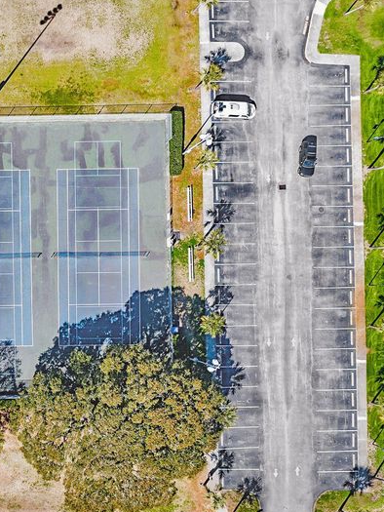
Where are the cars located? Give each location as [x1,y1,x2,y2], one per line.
[296,141,316,178]
[213,100,254,119]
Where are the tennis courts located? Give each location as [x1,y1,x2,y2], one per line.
[0,169,33,346]
[56,141,141,374]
